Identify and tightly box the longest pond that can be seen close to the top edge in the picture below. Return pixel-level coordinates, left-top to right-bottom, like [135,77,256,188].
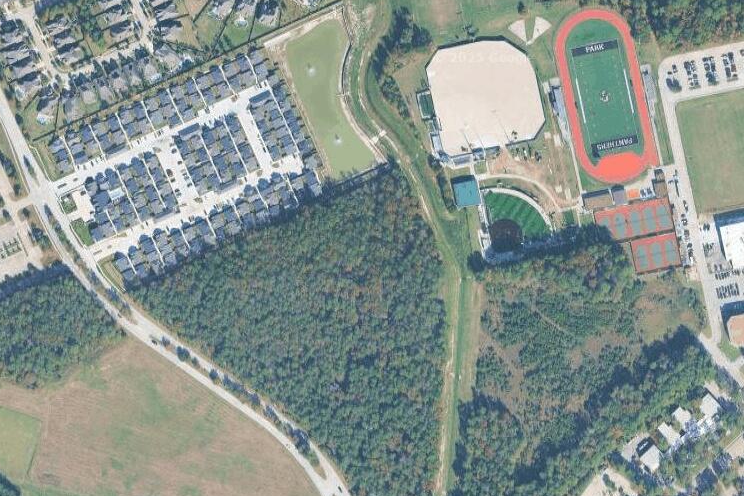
[285,18,375,177]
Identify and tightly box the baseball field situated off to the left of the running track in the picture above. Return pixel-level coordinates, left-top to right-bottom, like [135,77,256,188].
[427,42,545,157]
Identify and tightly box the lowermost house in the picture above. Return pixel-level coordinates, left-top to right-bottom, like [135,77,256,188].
[636,441,664,470]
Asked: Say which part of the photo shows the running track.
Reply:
top right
